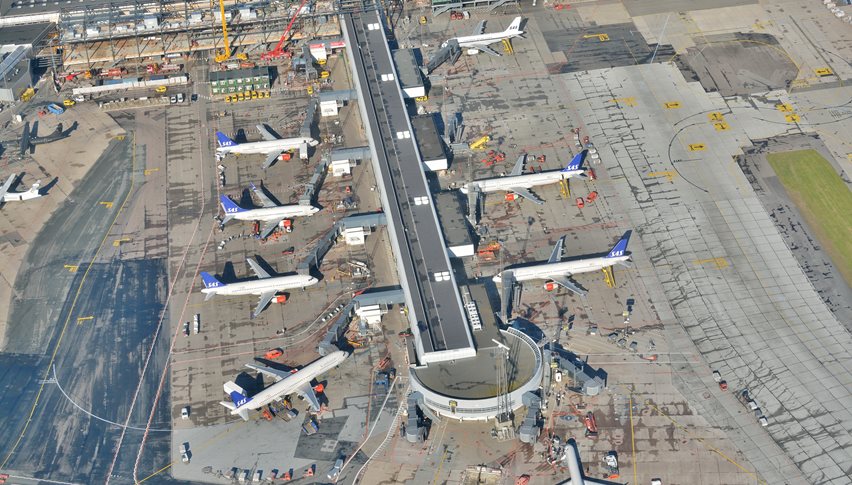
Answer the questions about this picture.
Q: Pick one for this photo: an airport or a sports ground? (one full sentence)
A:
What you see here is an airport.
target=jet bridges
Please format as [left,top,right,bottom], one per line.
[545,345,607,403]
[300,94,330,139]
[500,266,518,326]
[299,220,349,275]
[300,151,339,207]
[467,181,483,239]
[422,40,461,84]
[404,388,424,449]
[317,294,364,359]
[300,43,319,89]
[517,386,542,449]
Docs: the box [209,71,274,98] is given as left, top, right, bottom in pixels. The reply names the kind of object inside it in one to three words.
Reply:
building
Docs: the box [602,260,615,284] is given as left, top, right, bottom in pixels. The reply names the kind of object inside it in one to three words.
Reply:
vehicle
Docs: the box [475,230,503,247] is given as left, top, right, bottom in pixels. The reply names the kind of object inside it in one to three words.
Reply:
work vehicle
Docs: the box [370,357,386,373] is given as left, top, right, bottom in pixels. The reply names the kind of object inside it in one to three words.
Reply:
vehicle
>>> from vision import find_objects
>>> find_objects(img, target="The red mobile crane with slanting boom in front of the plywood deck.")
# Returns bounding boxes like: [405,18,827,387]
[261,0,307,64]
